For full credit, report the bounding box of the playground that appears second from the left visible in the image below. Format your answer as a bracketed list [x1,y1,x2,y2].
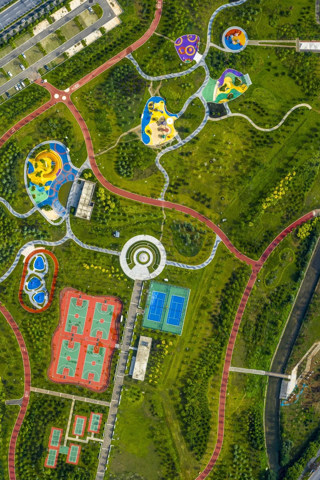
[141,95,178,145]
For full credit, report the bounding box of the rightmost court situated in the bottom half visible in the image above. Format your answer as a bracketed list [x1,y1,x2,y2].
[163,285,191,335]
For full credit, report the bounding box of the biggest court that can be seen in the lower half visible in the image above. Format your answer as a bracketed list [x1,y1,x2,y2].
[48,287,123,392]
